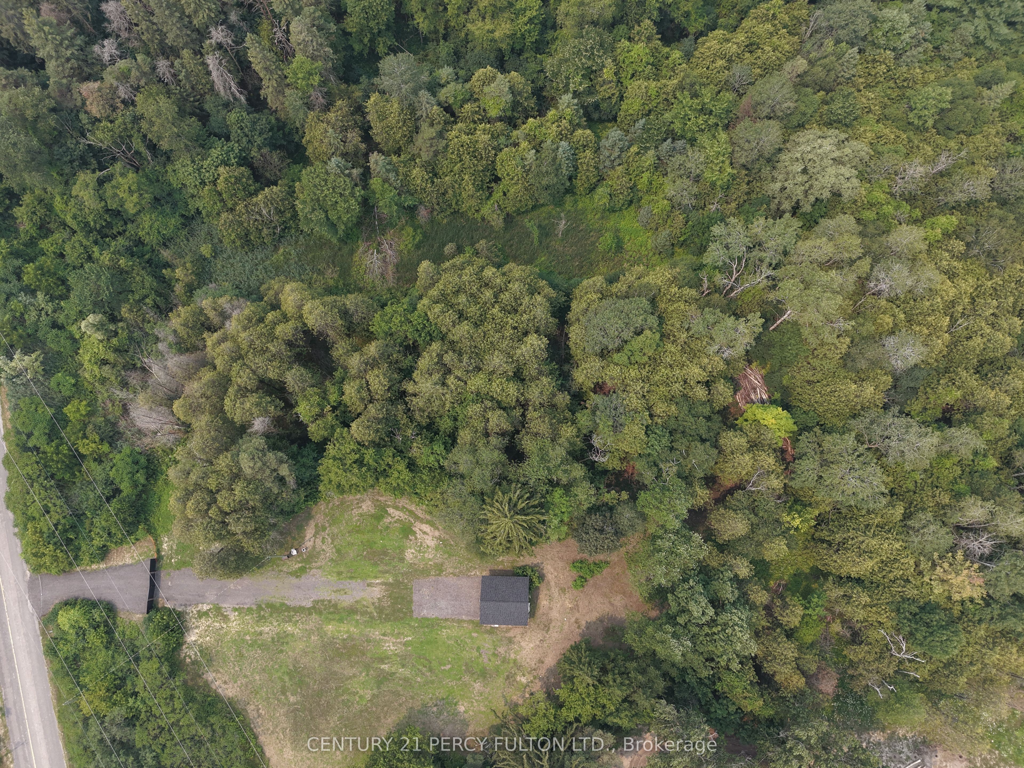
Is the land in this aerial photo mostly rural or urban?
rural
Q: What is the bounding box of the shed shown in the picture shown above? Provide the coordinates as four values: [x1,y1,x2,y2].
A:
[480,575,529,628]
